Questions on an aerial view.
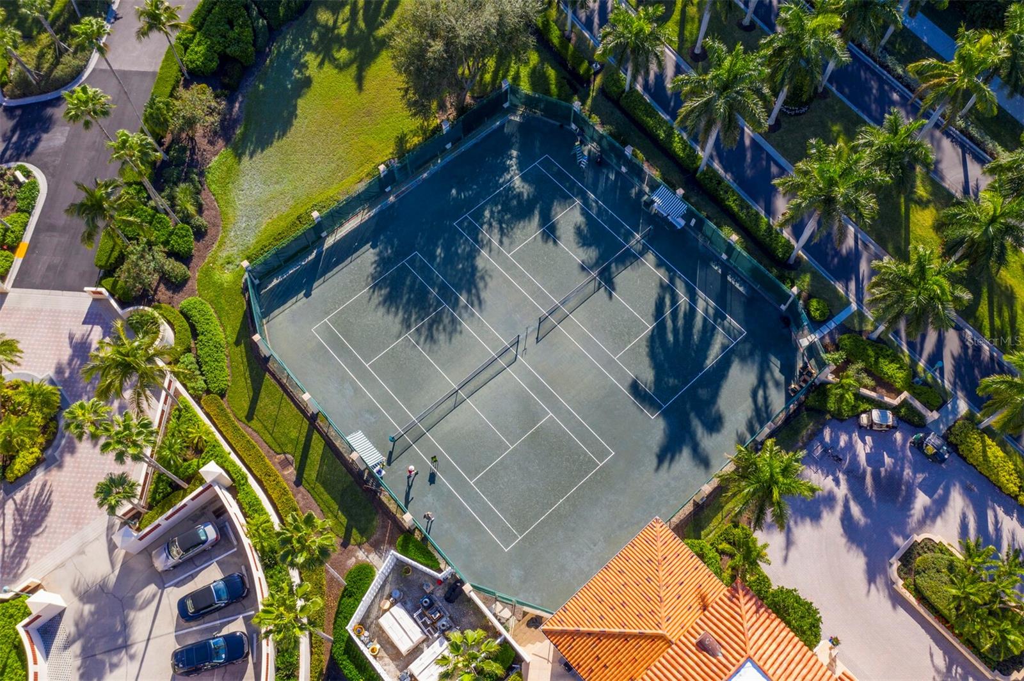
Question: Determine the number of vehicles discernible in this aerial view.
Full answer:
The photo contains 5 vehicles.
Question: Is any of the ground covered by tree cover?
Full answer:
Yes, the picture does contain tree cover.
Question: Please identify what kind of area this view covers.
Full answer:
This image shows a sports ground.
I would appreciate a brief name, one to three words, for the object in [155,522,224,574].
car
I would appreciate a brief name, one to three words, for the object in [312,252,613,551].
tennis court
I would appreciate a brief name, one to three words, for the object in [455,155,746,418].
tennis court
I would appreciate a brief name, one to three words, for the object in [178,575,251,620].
car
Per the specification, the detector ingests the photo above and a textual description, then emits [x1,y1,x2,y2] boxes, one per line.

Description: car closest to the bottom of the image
[174,633,252,676]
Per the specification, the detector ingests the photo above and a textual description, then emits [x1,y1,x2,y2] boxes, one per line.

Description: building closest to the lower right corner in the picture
[540,518,852,681]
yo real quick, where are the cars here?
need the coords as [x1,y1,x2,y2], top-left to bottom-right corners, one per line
[178,575,251,620]
[155,522,224,574]
[174,633,252,676]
